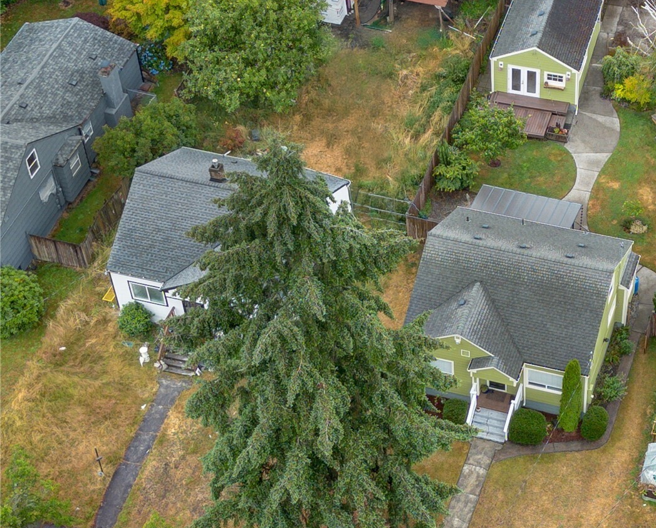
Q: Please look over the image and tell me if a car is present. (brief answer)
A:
No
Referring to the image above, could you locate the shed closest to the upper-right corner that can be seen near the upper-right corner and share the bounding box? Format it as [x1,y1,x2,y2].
[489,0,609,115]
